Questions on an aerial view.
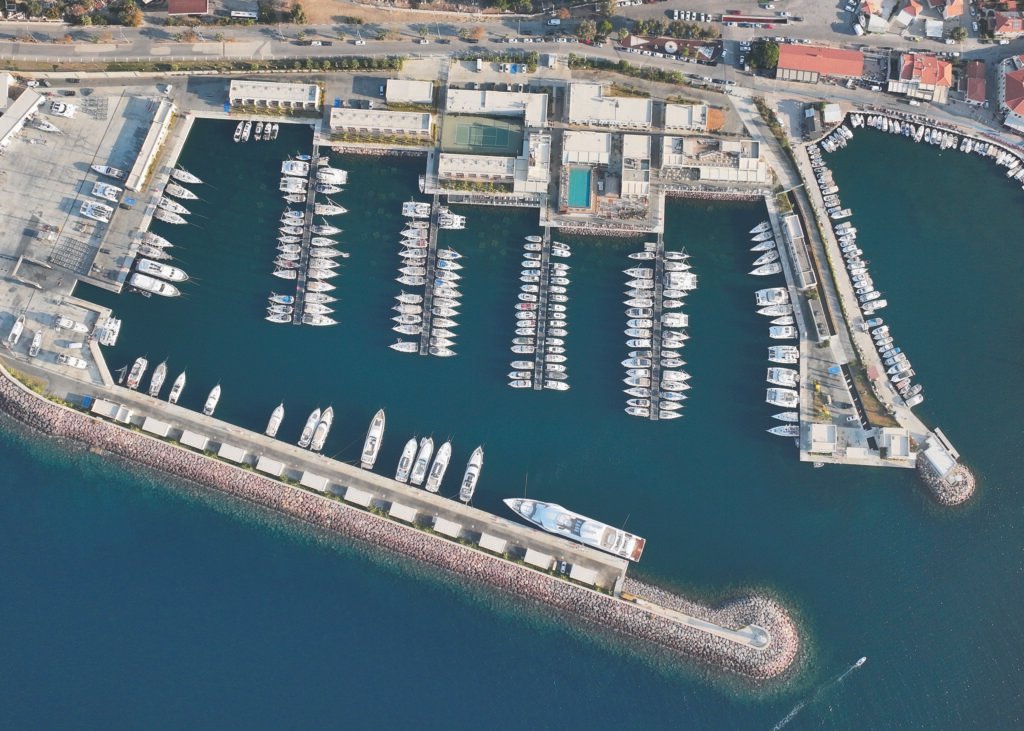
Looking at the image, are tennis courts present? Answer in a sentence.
Yes, a tennis court appears in the view.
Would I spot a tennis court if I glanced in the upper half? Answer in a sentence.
Yes, looking in the upper half, one can make out a tennis court.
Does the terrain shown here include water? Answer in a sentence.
Yes, there's water in this view.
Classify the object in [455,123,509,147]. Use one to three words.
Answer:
tennis court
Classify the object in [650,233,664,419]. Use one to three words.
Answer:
pier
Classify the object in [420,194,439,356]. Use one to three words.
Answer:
pier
